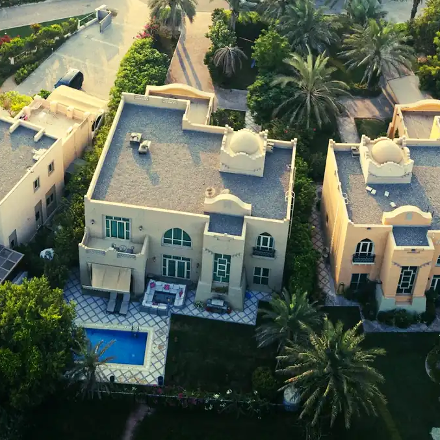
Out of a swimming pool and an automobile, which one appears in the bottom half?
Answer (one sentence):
It is a swimming pool that can be seen in the bottom half.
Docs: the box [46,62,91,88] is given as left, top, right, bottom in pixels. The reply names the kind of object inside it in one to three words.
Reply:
car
